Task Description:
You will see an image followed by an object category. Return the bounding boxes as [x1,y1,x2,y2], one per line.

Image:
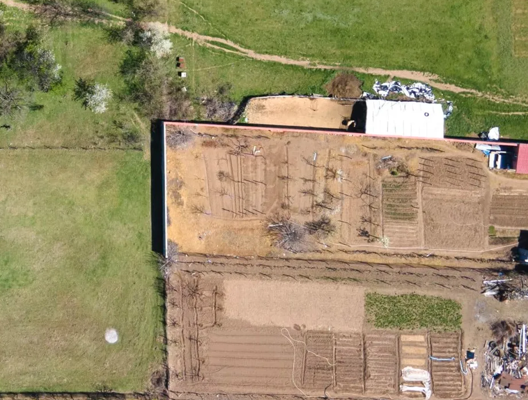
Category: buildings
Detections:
[358,100,444,138]
[507,144,528,174]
